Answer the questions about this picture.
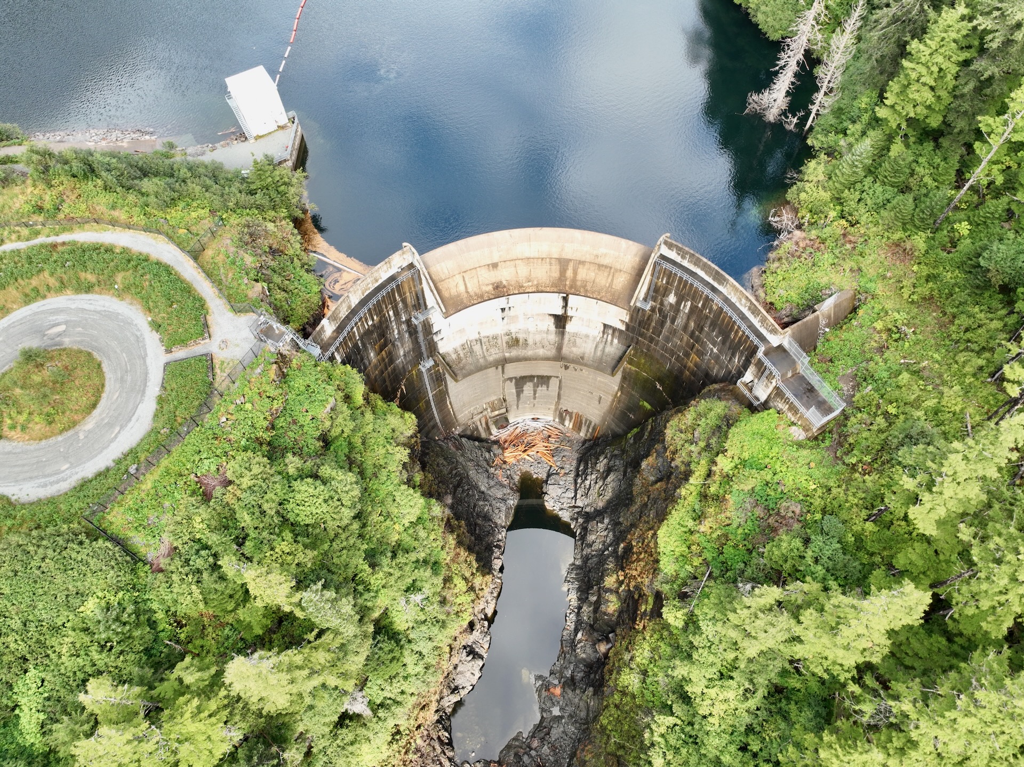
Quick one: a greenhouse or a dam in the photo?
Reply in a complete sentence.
There is a dam in the scene.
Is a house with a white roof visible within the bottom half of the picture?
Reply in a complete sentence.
No, there is no house with a white roof within the bottom half of the picture.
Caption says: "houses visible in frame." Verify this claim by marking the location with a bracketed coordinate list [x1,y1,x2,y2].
[225,68,291,141]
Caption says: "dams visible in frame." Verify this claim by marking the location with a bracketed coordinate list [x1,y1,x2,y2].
[303,230,786,448]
